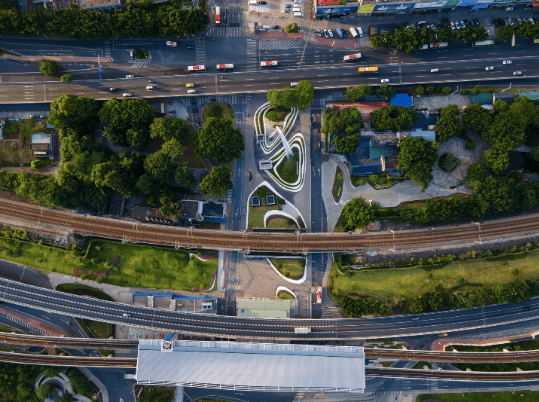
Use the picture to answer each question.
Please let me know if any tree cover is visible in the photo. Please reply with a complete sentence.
Yes, tree cover can be seen from above here.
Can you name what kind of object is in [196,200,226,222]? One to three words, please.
house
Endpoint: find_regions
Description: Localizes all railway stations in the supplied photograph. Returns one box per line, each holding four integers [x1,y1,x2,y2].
[135,336,366,393]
